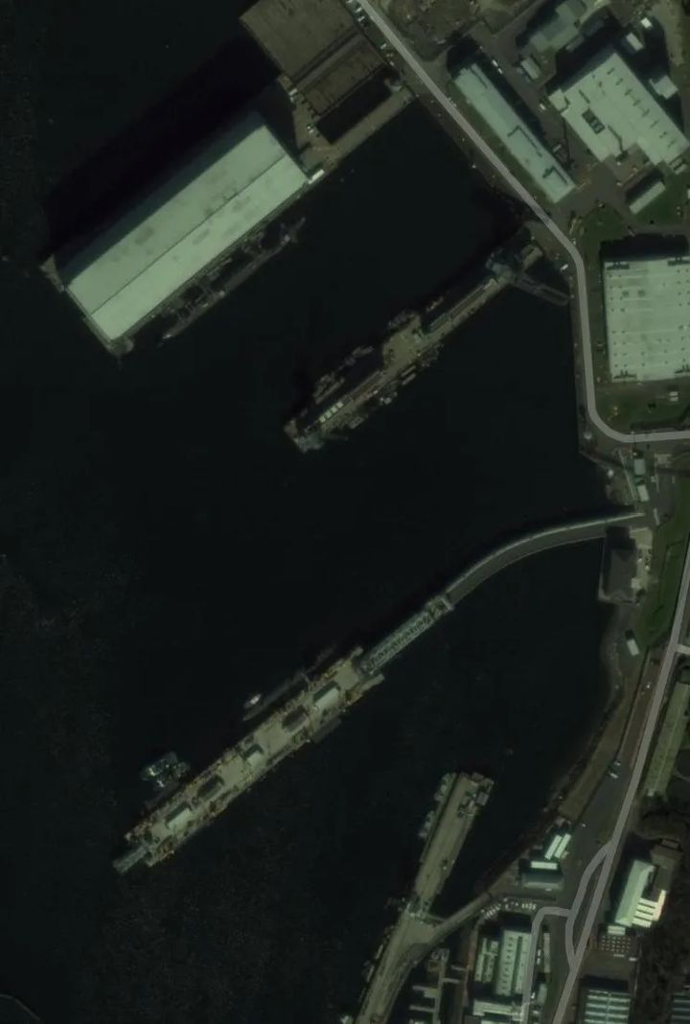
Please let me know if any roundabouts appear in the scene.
No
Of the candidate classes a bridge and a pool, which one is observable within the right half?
bridge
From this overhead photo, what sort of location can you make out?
port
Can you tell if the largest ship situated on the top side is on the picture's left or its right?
left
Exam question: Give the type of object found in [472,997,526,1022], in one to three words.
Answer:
building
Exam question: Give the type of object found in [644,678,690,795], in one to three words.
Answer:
house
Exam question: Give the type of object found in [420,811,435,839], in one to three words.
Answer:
boat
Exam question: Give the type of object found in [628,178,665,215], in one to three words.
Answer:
shed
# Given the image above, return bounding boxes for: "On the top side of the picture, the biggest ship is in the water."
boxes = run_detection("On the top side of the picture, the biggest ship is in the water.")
[165,215,306,336]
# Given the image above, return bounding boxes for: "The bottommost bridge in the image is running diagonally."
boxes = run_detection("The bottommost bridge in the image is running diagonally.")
[360,609,439,677]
